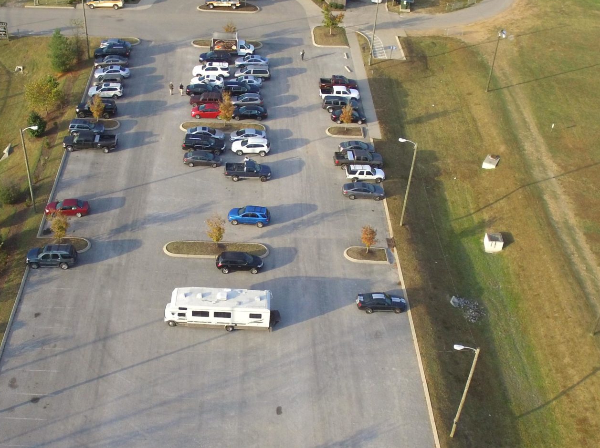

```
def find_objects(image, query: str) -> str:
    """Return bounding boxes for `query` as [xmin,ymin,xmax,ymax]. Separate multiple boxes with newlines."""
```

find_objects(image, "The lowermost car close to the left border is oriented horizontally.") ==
[26,243,81,268]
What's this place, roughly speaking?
parking lot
